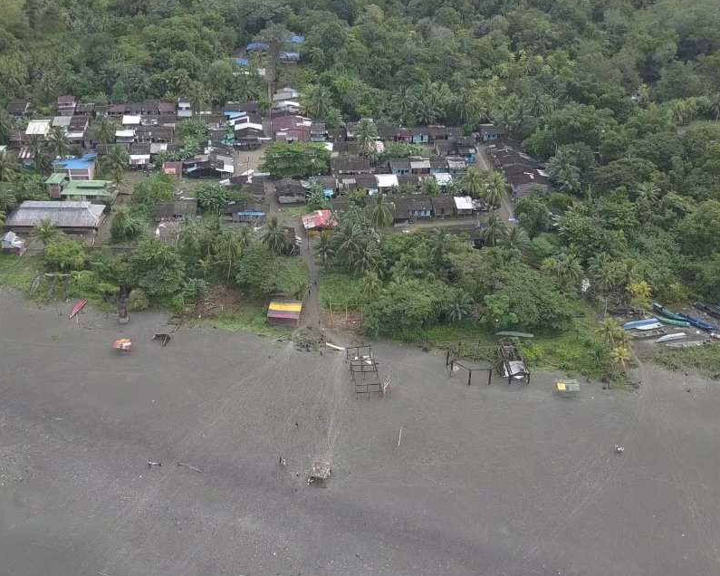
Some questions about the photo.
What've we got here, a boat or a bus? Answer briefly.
boat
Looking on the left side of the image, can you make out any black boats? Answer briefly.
No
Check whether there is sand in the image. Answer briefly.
Yes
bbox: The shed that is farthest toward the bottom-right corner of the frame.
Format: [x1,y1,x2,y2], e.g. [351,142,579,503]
[498,341,530,386]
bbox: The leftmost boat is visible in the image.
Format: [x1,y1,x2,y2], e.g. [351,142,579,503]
[70,299,88,319]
